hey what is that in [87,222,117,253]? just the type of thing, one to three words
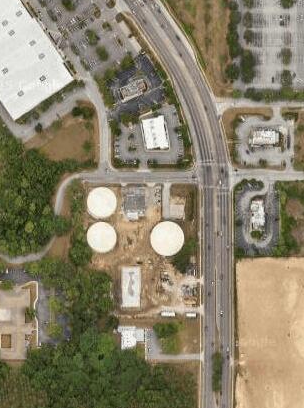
storage tank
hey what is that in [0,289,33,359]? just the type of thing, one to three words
building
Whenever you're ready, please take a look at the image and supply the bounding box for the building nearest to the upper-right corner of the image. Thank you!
[253,130,277,145]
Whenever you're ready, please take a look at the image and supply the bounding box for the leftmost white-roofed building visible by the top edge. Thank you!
[0,0,73,121]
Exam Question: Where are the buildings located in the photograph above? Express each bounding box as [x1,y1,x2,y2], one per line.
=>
[127,194,145,212]
[121,266,141,307]
[118,326,145,348]
[0,289,33,359]
[253,130,277,145]
[142,115,169,149]
[170,205,185,219]
[0,0,73,121]
[250,201,266,227]
[120,79,148,102]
